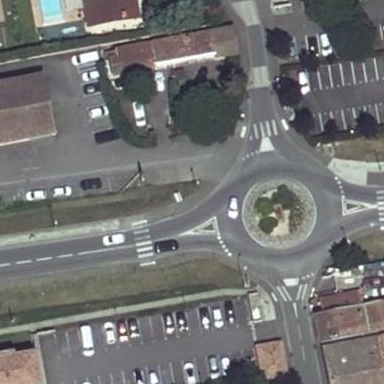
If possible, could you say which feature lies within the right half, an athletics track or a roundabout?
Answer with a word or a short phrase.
roundabout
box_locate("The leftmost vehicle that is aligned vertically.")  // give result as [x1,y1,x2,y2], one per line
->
[80,325,95,356]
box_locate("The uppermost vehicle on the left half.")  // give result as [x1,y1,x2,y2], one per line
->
[70,51,100,66]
